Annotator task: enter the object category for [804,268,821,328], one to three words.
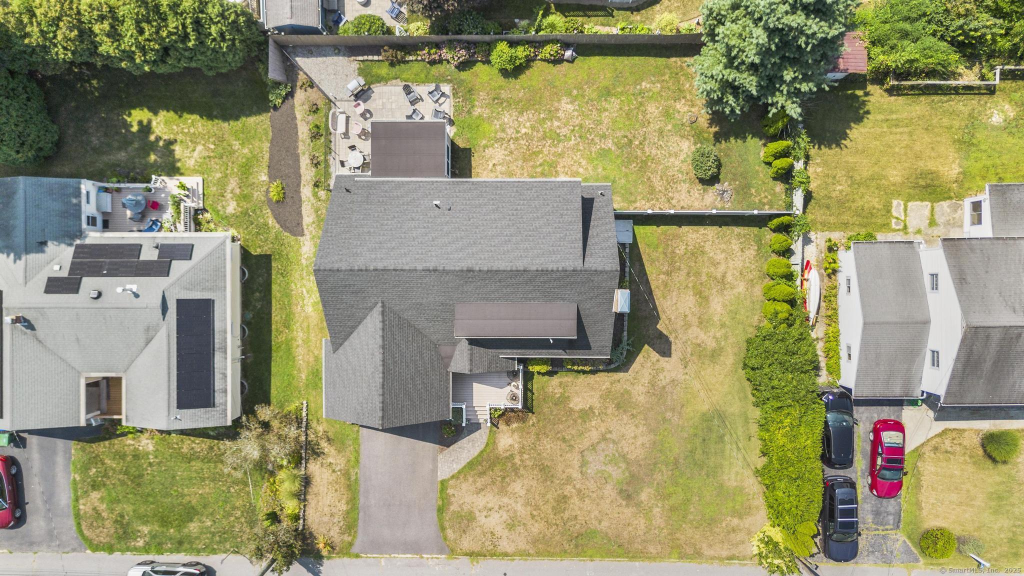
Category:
boat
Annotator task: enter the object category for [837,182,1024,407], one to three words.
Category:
house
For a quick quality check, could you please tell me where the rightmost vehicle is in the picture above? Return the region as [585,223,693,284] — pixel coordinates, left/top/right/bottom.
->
[863,417,906,497]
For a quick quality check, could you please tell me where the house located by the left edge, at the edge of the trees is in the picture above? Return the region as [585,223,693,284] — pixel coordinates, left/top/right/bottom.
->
[0,175,242,430]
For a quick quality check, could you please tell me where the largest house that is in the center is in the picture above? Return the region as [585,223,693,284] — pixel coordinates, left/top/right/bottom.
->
[314,120,630,429]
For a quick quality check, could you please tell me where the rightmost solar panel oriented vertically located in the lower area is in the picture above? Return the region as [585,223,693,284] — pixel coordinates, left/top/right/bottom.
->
[177,299,213,410]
